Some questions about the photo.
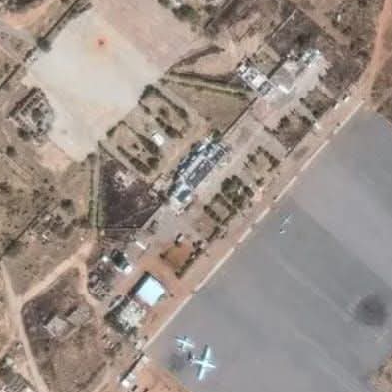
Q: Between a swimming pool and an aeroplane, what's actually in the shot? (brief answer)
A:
aeroplane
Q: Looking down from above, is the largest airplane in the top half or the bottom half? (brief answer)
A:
bottom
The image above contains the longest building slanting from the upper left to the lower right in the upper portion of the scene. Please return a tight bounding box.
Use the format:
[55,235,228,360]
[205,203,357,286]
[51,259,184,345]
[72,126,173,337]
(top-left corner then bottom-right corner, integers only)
[241,63,272,96]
